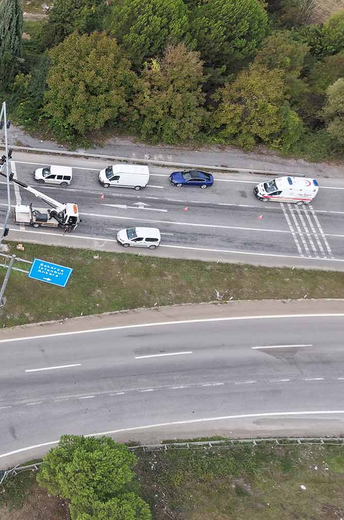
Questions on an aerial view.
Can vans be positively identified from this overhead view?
Yes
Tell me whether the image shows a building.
No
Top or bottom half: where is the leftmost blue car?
top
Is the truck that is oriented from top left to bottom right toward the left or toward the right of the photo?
left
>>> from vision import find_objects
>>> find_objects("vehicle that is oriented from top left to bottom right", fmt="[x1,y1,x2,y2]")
[0,155,79,236]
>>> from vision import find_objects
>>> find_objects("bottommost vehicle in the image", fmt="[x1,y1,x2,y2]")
[116,225,163,249]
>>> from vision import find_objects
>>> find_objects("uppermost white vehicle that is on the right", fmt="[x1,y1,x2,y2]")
[253,176,319,206]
